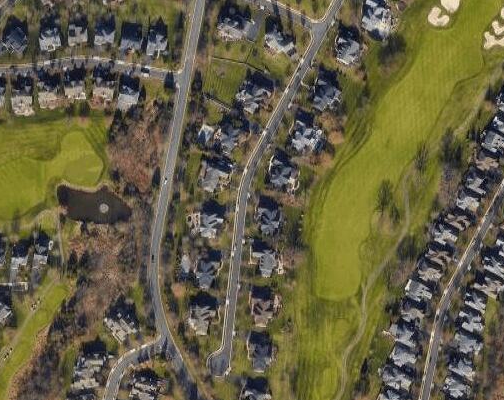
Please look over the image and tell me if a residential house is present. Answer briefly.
Yes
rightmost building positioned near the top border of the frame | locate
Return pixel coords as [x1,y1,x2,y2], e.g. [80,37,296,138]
[361,0,397,37]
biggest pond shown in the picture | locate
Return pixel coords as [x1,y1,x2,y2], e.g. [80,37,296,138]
[57,184,132,225]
